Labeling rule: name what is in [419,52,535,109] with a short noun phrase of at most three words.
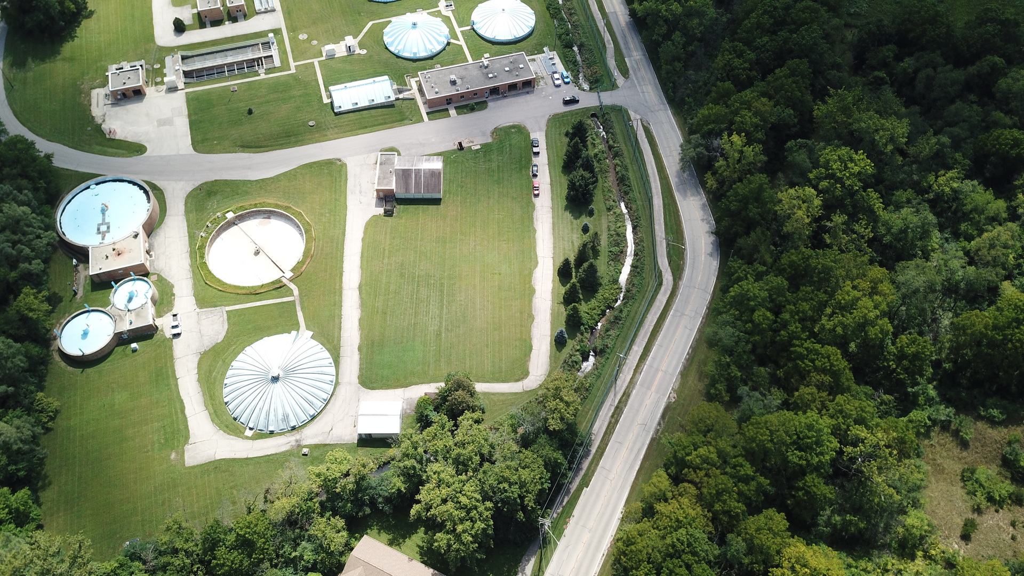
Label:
building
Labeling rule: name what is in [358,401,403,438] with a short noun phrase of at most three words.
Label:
barn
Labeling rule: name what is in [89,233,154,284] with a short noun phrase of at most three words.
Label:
building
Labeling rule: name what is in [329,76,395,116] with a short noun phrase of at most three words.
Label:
shed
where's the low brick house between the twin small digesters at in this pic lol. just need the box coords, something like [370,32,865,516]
[109,301,157,341]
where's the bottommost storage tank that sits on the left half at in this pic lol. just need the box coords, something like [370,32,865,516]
[57,306,118,362]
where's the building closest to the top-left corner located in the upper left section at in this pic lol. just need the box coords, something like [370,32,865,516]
[110,67,146,101]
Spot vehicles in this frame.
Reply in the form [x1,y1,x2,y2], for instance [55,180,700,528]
[531,138,540,154]
[532,164,539,176]
[562,95,580,104]
[533,181,540,196]
[170,313,181,336]
[561,71,570,83]
[551,71,561,86]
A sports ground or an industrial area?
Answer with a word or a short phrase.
industrial area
